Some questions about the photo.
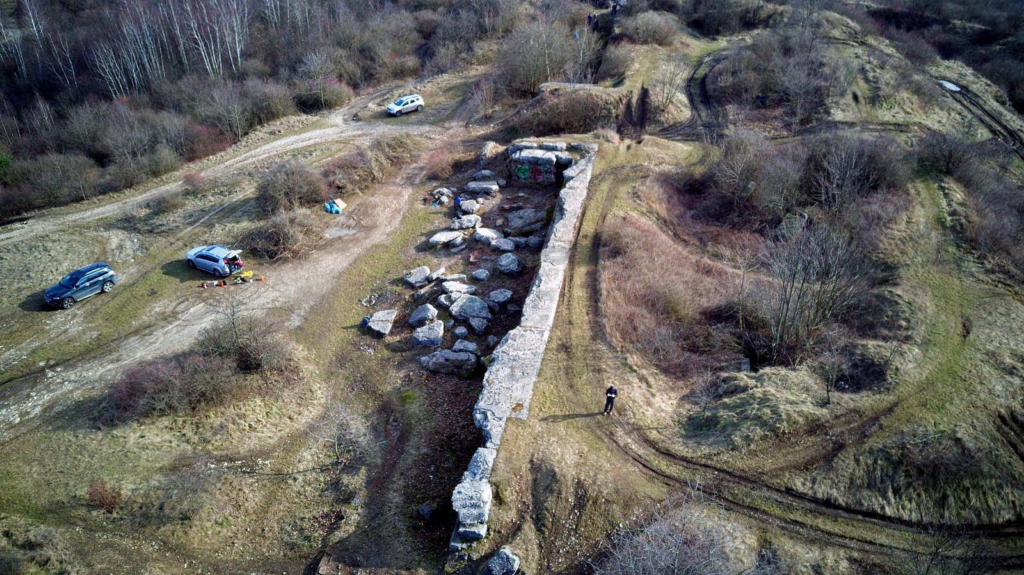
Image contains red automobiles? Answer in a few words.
No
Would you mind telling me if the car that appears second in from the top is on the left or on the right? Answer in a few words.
left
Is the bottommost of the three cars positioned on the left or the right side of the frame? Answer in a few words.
left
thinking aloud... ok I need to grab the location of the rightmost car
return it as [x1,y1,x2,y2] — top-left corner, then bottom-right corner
[389,94,426,116]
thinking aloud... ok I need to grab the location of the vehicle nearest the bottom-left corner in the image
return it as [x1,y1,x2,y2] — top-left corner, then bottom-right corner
[44,266,118,309]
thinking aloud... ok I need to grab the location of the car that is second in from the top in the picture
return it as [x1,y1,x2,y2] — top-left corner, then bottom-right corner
[185,244,239,276]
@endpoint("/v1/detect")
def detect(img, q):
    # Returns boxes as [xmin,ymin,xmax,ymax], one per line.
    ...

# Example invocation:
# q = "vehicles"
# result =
[185,244,239,276]
[44,266,118,309]
[389,94,426,116]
